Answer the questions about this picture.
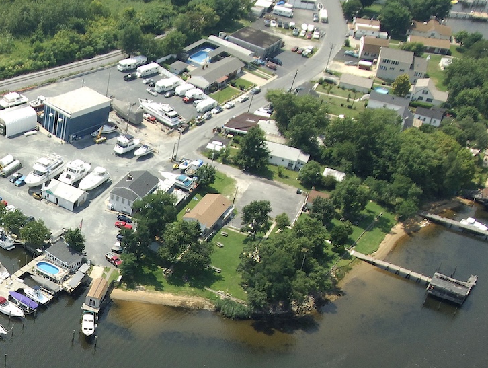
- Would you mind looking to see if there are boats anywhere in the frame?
Yes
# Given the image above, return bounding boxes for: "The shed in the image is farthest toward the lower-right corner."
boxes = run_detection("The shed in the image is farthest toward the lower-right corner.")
[424,272,470,309]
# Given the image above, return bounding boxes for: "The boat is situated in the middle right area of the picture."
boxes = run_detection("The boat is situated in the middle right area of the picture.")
[456,208,488,231]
